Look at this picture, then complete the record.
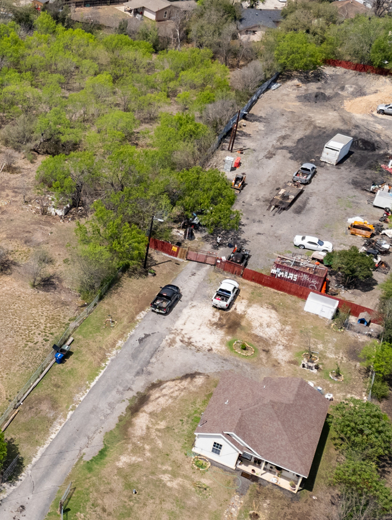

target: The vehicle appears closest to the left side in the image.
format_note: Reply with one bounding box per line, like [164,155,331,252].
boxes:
[148,283,180,315]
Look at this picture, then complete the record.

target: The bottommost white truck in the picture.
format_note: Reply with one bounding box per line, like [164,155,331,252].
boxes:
[212,279,239,310]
